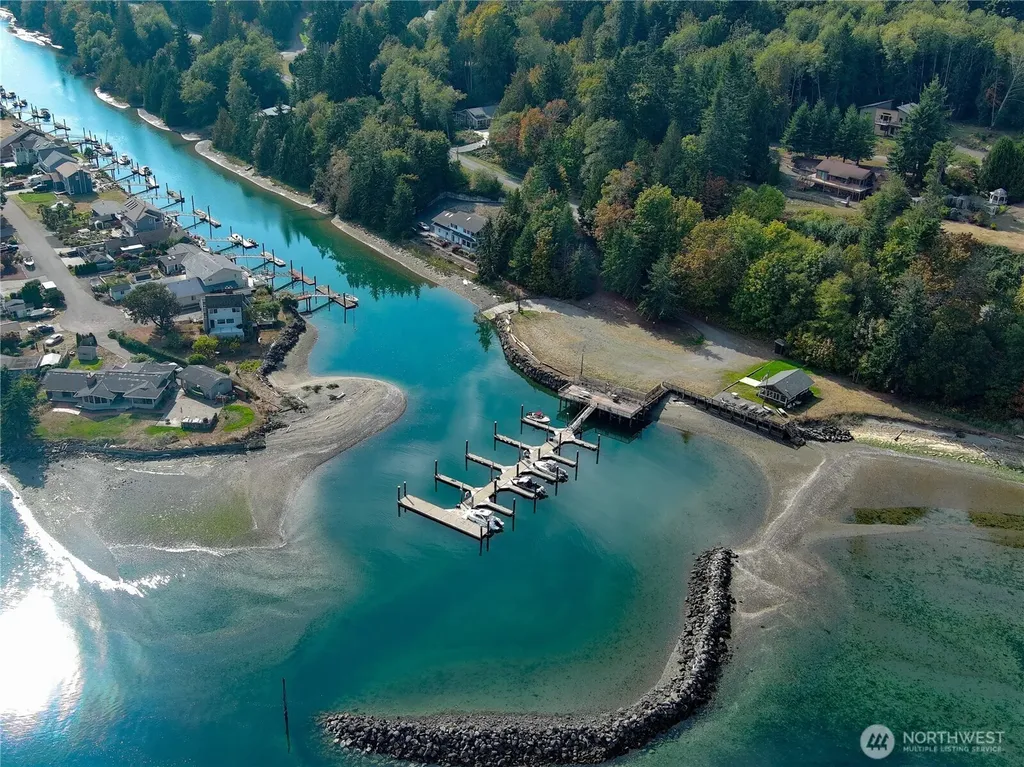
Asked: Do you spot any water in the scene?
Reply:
Yes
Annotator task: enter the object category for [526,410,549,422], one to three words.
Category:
boat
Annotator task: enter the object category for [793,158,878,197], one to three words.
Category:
house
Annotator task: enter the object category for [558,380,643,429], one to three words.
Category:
pier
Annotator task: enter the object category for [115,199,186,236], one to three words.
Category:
house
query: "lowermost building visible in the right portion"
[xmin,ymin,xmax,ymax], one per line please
[750,369,815,411]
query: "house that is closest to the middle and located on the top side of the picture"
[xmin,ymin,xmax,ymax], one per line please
[436,211,493,249]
